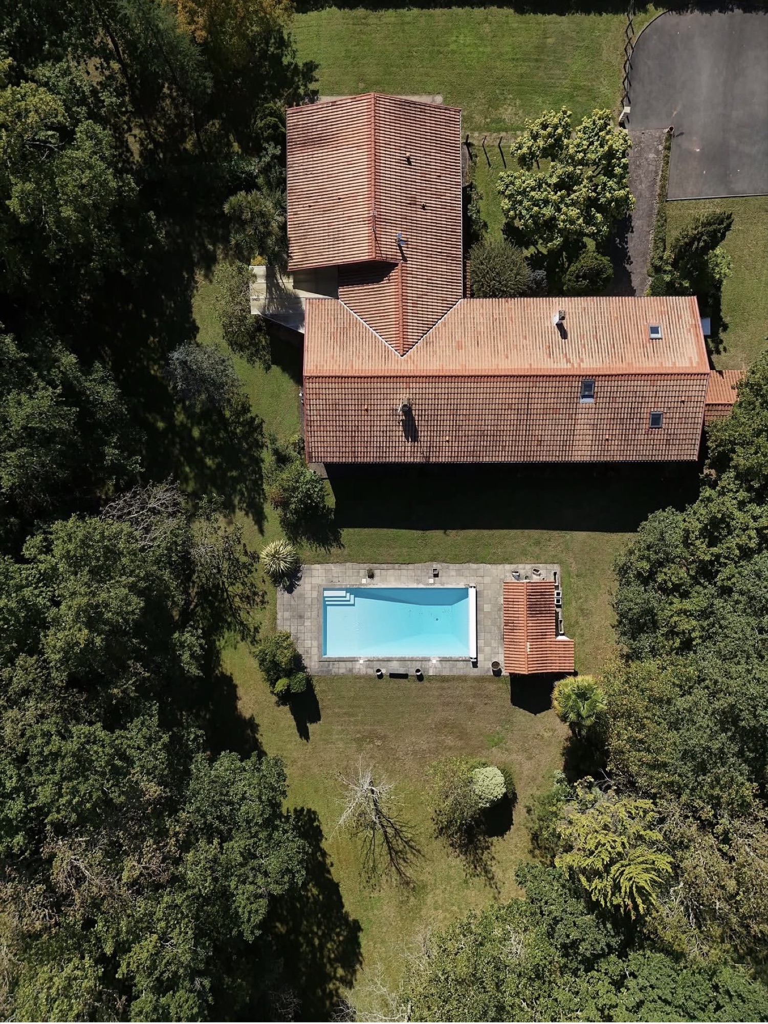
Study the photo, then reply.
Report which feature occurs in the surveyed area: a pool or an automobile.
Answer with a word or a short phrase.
pool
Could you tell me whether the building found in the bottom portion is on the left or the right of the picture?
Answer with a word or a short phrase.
right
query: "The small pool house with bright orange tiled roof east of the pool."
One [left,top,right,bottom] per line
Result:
[499,579,575,675]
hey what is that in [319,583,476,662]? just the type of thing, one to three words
swimming pool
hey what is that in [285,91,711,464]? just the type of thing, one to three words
house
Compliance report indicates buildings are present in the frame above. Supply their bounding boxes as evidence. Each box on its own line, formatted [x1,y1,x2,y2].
[285,91,711,464]
[499,579,575,675]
